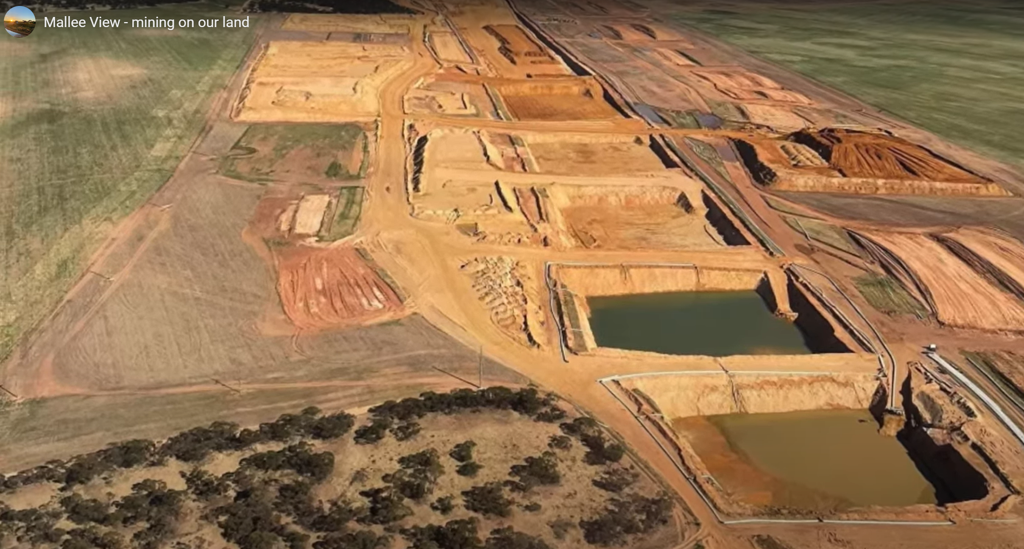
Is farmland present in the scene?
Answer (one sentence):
Yes, the picture does contain farmland.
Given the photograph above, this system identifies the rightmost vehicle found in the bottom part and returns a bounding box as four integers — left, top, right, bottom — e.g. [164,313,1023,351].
[925,341,939,355]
